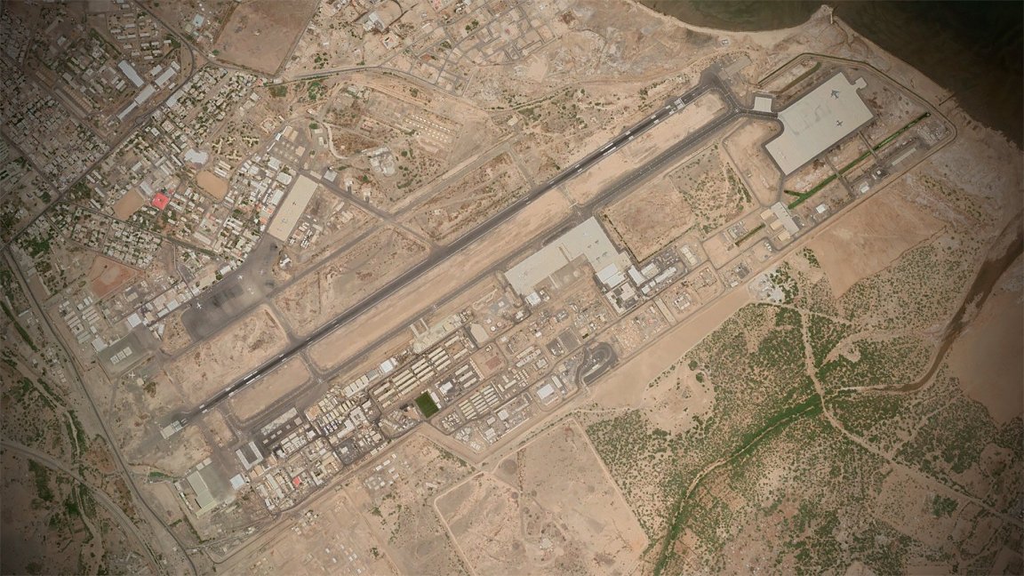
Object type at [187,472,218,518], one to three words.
hangar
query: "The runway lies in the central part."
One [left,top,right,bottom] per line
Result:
[173,82,707,428]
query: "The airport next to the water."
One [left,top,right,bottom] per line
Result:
[98,55,921,504]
